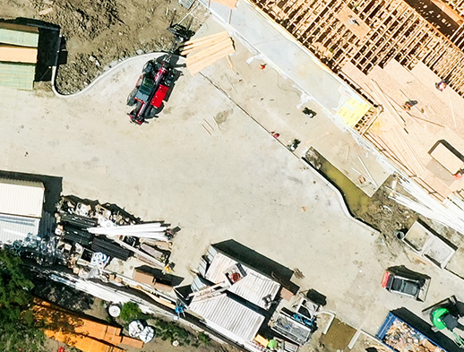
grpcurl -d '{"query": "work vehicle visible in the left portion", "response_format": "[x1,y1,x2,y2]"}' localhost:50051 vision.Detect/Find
[125,26,182,118]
